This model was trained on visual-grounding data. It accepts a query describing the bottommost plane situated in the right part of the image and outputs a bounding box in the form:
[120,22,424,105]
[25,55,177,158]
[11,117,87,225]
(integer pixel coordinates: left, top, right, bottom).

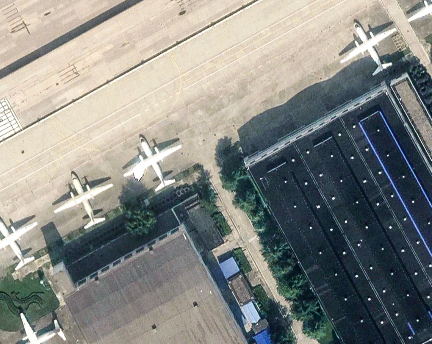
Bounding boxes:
[339,21,395,71]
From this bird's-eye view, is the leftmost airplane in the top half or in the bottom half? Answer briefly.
bottom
